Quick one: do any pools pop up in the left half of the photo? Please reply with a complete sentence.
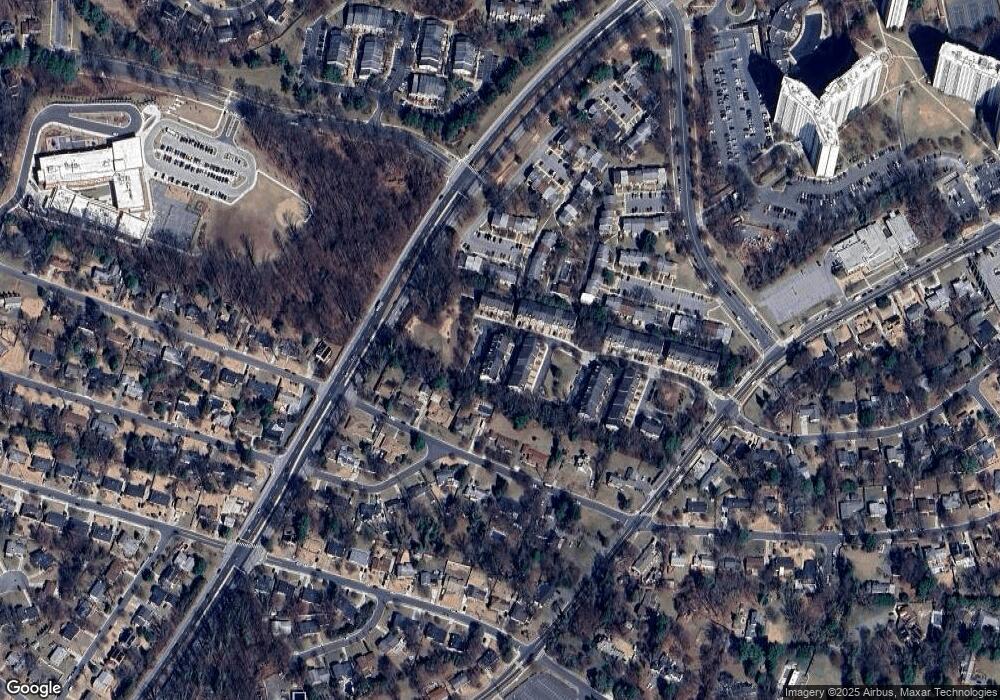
No, I can find no pool in the left half of the photo.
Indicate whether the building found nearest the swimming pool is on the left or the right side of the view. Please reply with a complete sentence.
The building found nearest the swimming pool is on the right side of the image.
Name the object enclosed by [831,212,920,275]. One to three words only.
building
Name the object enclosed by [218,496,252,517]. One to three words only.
house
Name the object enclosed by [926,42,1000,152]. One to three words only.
building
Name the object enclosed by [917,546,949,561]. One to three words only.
house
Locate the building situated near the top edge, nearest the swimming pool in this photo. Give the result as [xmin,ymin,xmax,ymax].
[770,0,806,75]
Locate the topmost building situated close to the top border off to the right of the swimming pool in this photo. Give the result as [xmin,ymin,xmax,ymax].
[869,0,909,31]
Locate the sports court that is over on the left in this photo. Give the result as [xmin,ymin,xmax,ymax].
[150,185,200,248]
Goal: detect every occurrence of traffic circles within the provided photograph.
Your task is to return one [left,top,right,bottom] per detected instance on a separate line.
[715,0,758,24]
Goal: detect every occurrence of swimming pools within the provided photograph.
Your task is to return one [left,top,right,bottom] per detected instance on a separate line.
[788,11,832,63]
